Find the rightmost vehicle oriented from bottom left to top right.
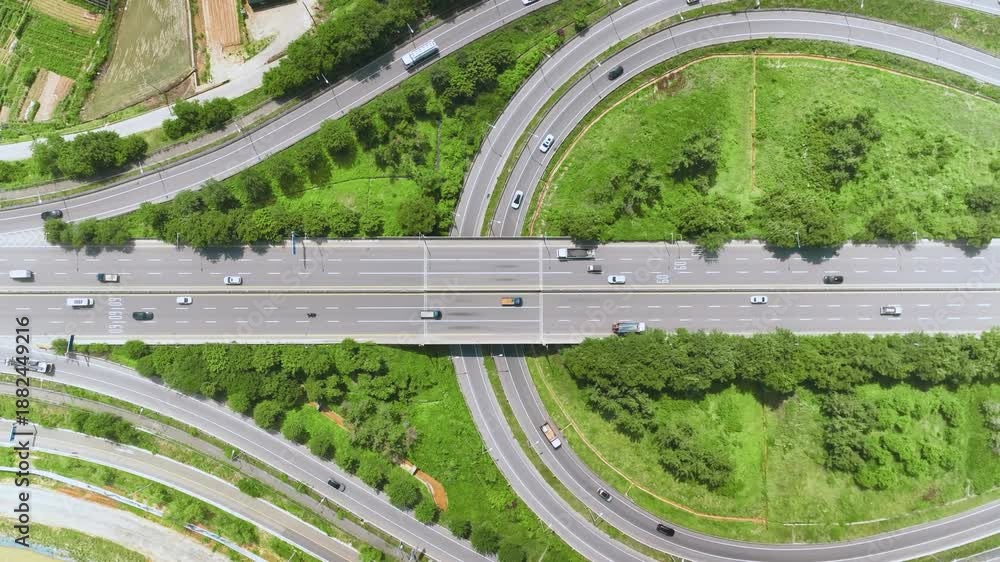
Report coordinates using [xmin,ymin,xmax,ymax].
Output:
[607,65,624,79]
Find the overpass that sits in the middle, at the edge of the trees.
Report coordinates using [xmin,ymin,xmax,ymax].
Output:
[424,238,543,344]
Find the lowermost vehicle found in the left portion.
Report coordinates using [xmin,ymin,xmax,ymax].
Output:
[327,479,344,492]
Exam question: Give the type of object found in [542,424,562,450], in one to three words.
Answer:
vehicle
